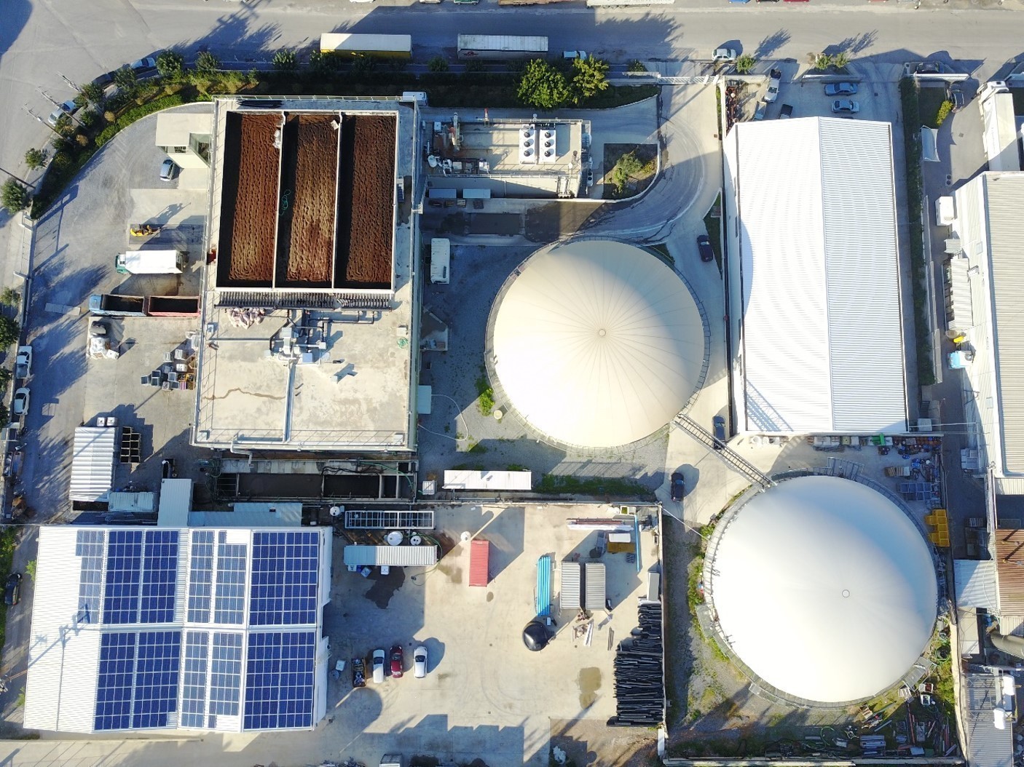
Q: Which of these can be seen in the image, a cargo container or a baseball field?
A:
cargo container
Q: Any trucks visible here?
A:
Yes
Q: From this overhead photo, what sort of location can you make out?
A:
industrial area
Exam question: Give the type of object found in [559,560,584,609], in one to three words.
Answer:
shipping container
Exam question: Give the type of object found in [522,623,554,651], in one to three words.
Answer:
storage tank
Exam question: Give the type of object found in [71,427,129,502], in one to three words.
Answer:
shed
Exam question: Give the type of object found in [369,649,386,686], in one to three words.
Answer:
car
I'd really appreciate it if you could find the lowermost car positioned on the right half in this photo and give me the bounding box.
[671,471,687,501]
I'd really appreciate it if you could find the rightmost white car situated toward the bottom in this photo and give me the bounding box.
[411,647,427,680]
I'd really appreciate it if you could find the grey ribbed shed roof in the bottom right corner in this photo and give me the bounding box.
[959,715,1013,767]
